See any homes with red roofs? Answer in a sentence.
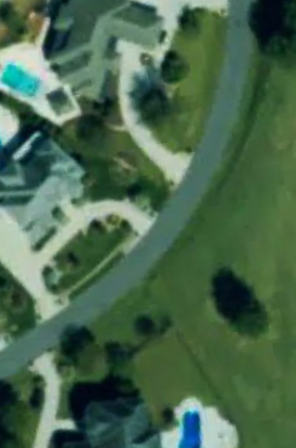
No, there isn't any home with a red roof down there.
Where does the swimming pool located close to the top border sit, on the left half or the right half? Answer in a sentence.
The swimming pool located close to the top border is on the left side of the image.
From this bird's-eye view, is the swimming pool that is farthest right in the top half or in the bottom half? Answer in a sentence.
The swimming pool that is farthest right is in the bottom half of the image.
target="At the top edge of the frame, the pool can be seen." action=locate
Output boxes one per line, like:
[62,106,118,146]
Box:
[0,20,81,126]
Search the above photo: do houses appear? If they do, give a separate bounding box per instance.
[56,386,166,448]
[37,0,168,102]
[0,127,93,251]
